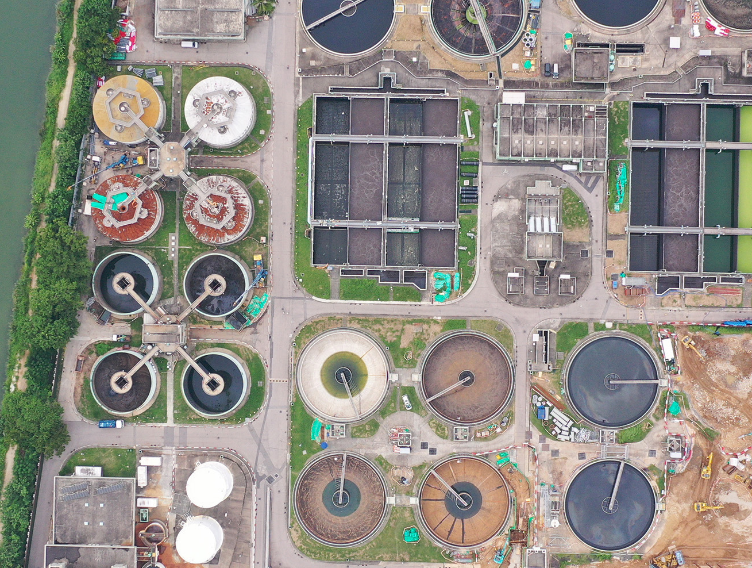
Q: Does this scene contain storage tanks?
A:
Yes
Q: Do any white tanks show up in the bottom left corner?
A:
Yes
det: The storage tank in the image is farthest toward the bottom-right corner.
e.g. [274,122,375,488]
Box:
[559,453,665,556]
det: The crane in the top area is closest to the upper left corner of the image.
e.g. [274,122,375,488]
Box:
[67,154,144,190]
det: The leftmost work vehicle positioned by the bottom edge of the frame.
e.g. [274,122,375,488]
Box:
[493,537,508,562]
